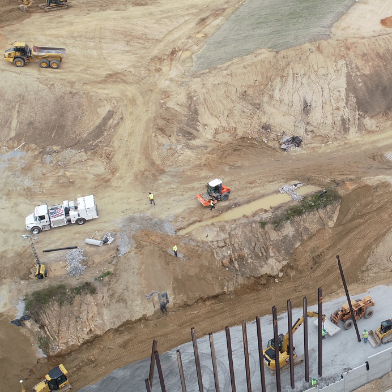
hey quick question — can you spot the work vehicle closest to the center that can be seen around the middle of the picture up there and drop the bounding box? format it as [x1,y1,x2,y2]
[194,183,233,209]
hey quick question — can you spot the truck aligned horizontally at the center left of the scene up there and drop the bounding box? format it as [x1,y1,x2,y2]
[25,195,99,234]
